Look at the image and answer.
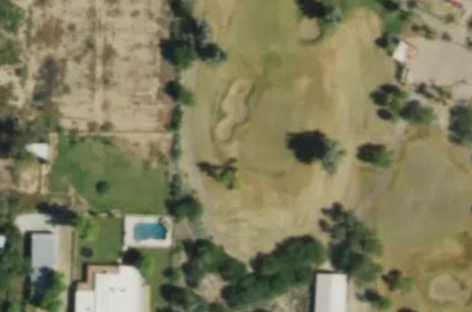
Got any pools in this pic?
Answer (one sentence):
Yes, looking at the shot, I can spot a pool.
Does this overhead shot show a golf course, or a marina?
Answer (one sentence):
The picture captures a golf course.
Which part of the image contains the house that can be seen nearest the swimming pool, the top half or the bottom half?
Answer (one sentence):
The house that can be seen nearest the swimming pool is in the bottom half of the image.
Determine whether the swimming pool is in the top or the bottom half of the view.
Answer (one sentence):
It is in the bottom half that the swimming pool appears.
